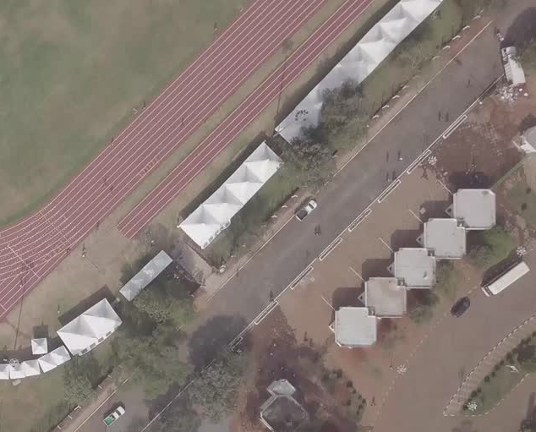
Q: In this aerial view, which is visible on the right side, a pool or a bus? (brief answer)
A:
bus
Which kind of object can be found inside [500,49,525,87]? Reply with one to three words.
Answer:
truck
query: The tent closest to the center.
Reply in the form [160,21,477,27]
[179,143,288,248]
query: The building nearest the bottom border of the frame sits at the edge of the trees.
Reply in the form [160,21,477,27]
[259,379,309,432]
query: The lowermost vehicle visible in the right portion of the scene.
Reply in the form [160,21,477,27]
[451,297,473,316]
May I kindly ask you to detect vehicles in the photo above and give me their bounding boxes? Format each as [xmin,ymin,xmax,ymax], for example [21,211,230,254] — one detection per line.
[103,405,126,428]
[500,49,525,87]
[295,199,318,222]
[451,297,473,316]
[483,262,532,298]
